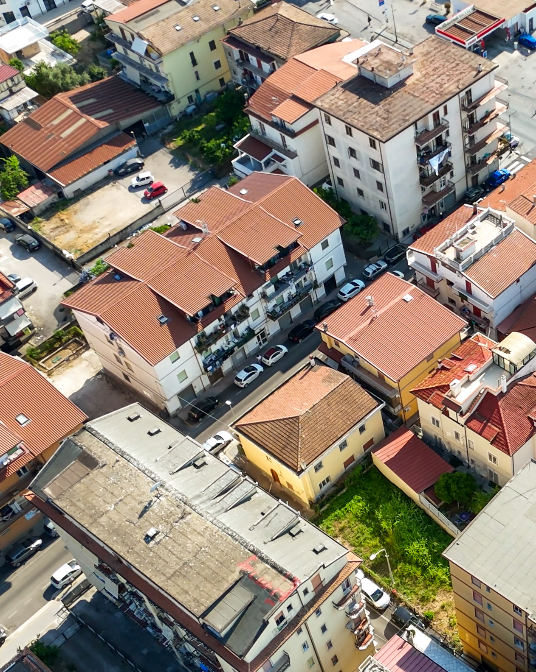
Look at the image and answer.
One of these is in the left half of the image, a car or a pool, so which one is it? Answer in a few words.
car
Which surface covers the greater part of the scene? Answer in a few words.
buildings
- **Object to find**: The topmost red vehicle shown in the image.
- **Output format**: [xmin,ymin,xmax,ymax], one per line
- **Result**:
[143,180,169,199]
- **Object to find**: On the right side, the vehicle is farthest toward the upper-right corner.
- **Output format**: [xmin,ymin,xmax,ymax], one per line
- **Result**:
[517,31,536,49]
